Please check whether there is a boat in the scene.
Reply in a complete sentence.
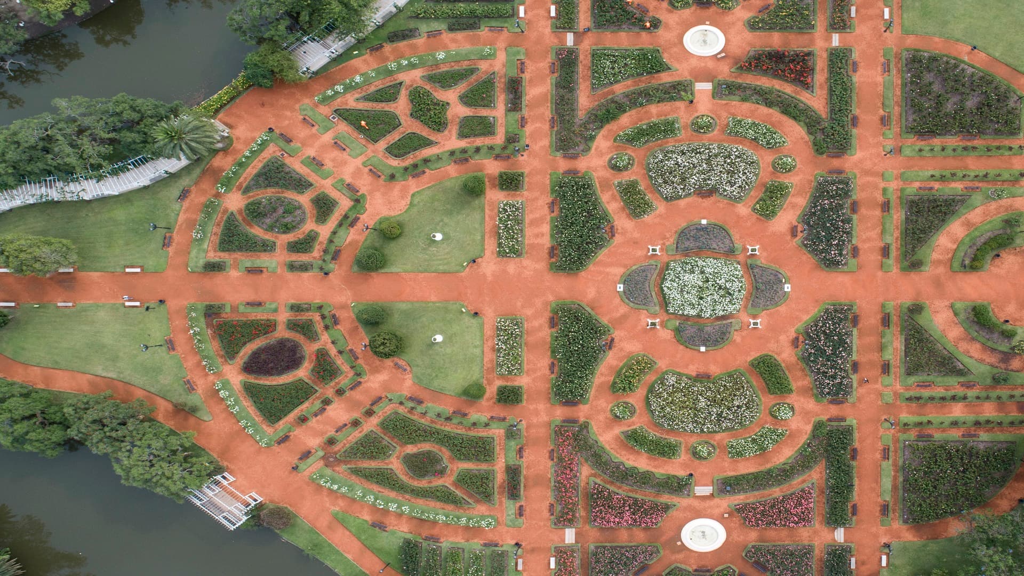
No, I can see no boat in this picture.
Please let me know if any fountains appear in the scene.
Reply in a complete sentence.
Yes, a fountain is visible in the scene.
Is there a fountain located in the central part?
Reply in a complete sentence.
No, I can find no fountain in the central part.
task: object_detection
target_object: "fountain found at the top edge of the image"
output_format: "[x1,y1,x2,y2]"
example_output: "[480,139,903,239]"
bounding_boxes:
[683,24,725,56]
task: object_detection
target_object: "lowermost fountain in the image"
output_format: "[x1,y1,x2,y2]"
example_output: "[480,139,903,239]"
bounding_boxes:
[681,518,727,552]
